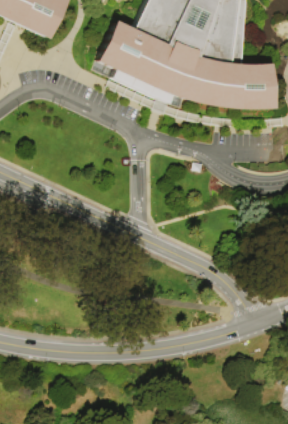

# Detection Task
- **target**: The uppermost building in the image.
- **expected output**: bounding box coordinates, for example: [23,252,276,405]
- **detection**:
[0,0,68,38]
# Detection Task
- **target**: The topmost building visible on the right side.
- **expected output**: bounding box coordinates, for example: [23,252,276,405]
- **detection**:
[92,0,278,109]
